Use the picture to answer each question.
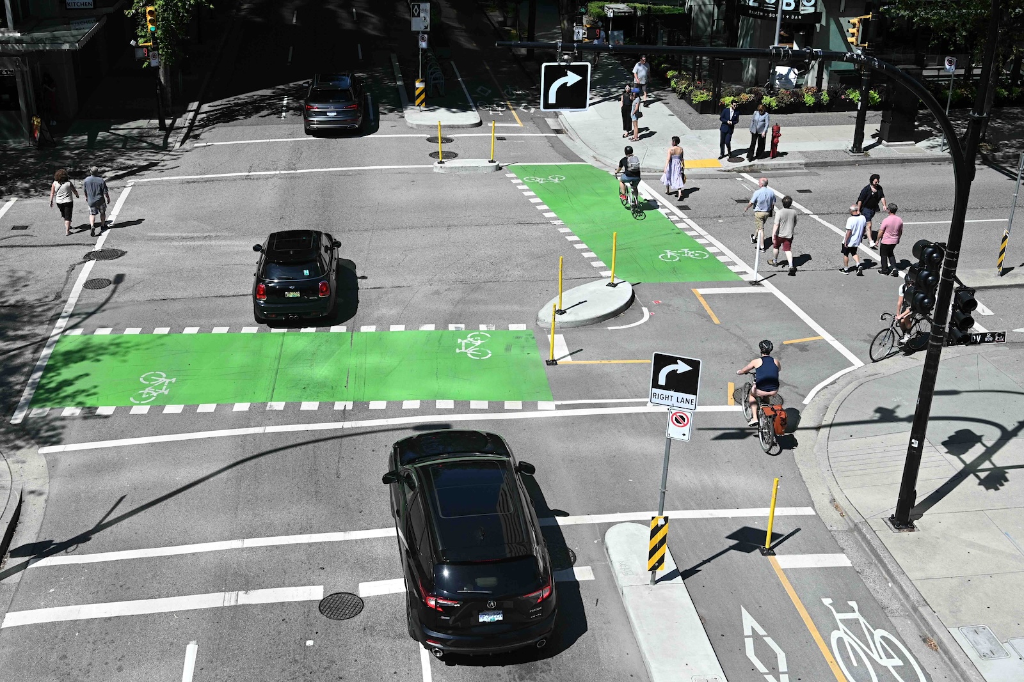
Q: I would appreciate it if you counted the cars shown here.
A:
three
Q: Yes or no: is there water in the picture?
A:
No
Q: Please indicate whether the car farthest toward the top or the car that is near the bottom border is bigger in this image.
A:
the car that is near the bottom border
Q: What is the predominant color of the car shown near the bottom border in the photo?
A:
black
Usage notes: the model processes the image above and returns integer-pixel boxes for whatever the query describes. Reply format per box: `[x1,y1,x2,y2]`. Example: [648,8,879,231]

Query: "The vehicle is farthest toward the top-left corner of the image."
[300,70,368,134]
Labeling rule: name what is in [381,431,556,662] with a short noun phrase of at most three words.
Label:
car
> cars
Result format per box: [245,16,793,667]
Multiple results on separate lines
[250,229,344,322]
[381,431,556,662]
[300,70,368,134]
